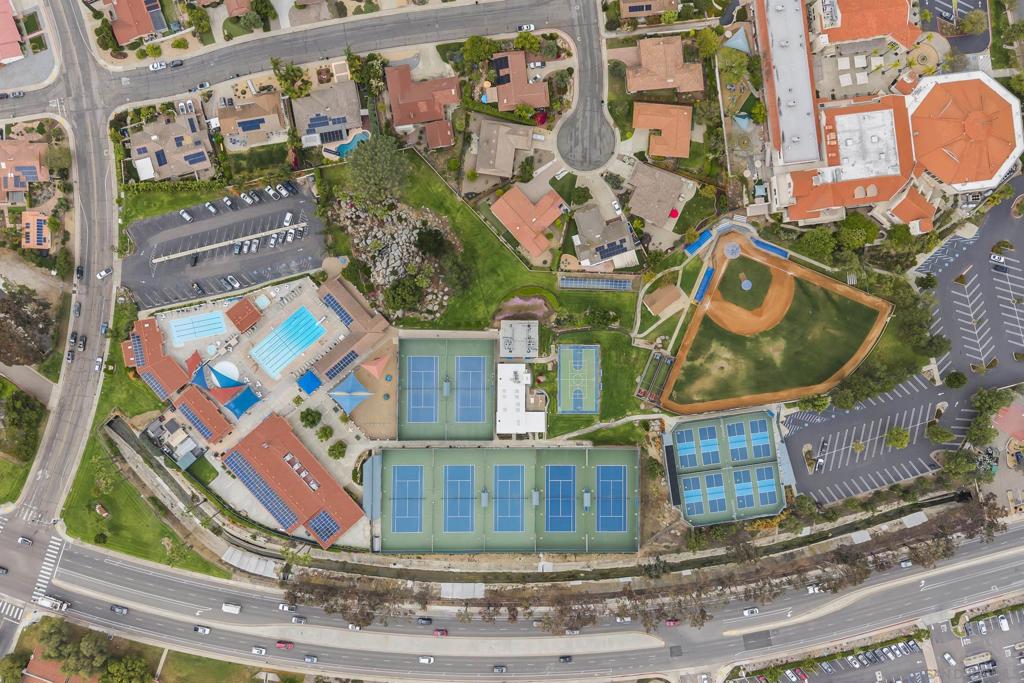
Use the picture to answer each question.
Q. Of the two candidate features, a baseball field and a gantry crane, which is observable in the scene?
baseball field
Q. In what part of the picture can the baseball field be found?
right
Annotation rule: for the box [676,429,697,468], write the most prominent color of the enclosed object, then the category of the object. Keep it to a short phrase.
blue sports court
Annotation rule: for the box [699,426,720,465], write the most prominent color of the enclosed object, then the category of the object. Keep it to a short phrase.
blue sports court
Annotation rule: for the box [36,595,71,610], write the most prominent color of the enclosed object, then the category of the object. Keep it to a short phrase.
white vehicle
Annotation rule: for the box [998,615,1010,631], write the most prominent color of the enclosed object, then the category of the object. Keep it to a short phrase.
white vehicle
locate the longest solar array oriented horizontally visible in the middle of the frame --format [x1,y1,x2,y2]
[559,277,632,289]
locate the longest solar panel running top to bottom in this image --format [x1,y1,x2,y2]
[665,446,680,506]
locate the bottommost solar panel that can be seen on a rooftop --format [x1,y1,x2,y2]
[308,512,338,542]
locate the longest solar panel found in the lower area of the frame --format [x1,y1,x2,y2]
[224,453,295,529]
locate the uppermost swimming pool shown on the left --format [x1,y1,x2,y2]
[335,130,370,159]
